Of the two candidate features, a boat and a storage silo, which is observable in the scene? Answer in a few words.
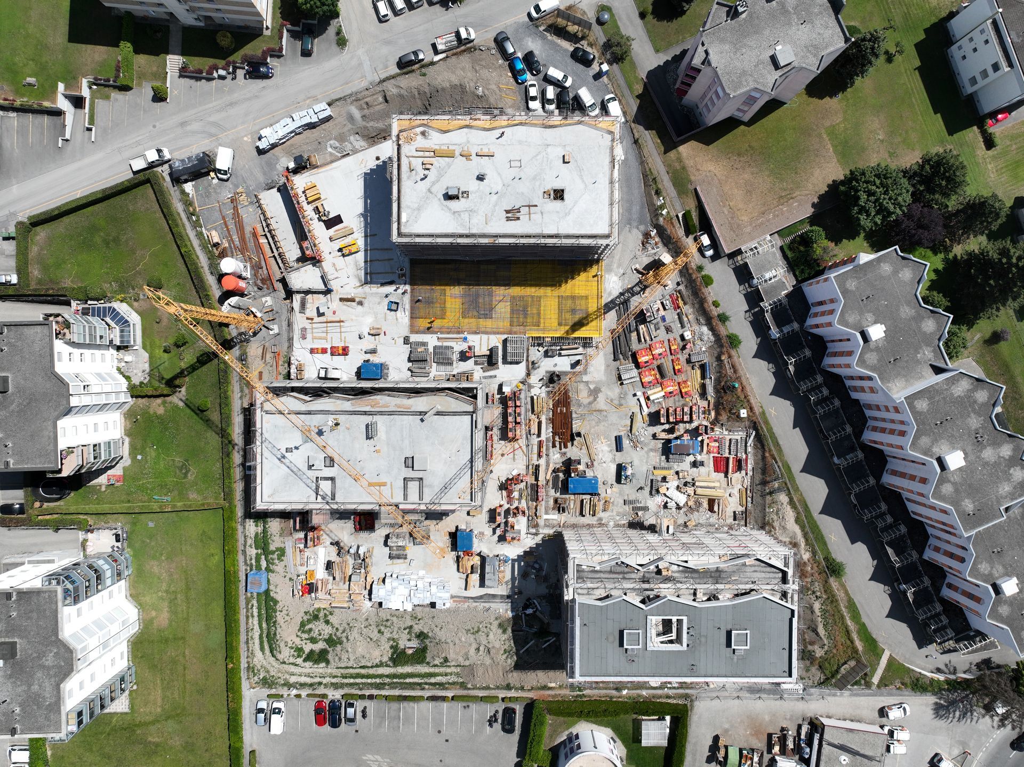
storage silo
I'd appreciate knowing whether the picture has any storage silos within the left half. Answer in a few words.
Yes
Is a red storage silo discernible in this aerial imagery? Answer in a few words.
Yes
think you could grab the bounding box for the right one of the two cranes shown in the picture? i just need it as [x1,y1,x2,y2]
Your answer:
[456,231,715,503]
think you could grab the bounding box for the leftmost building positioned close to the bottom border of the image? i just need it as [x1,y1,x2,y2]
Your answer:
[0,550,140,743]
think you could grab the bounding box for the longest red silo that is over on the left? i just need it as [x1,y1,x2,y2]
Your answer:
[222,274,262,295]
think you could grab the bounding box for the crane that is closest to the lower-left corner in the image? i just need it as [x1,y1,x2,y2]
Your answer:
[140,285,451,562]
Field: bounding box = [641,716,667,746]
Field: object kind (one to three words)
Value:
shed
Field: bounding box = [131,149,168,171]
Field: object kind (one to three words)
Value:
truck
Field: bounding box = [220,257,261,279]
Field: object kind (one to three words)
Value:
silo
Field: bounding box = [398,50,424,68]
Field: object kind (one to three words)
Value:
car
